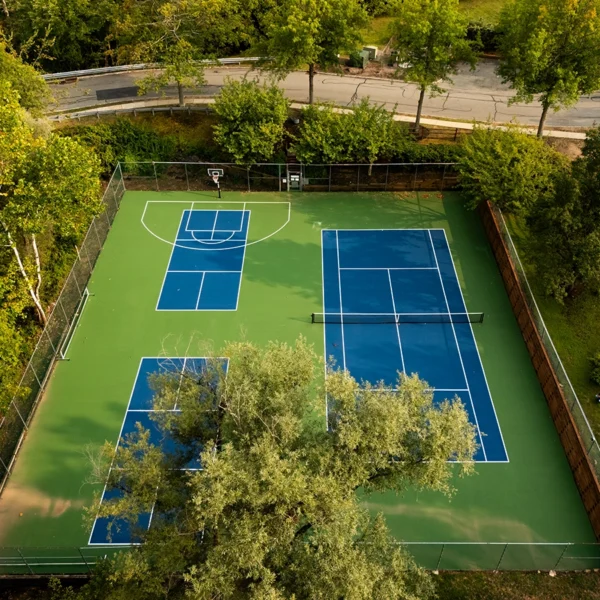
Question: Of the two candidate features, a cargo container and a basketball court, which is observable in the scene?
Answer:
basketball court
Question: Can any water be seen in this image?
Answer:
No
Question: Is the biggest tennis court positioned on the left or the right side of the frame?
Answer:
right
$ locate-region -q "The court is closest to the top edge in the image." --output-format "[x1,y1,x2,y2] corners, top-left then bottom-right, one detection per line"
[129,200,291,251]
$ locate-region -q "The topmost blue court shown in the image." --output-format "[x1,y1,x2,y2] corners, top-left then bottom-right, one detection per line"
[156,210,250,310]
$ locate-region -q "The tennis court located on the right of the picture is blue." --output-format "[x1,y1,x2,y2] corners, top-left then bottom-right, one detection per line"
[321,229,510,463]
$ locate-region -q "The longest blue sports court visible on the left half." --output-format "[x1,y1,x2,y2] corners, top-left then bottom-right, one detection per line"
[88,357,229,546]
